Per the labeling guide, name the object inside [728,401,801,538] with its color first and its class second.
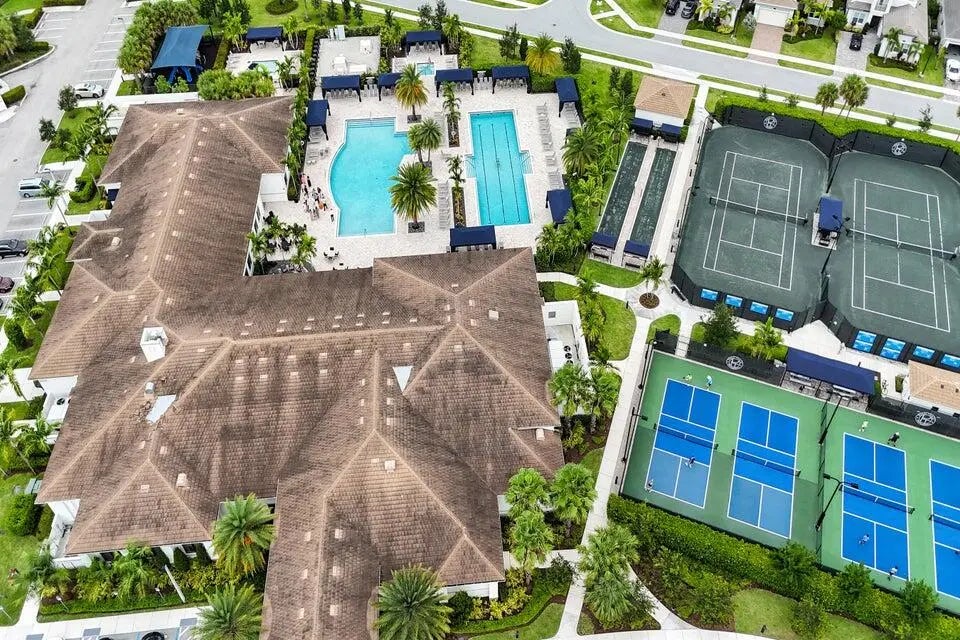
blue sports court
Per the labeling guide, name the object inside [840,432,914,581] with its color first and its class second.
blue sports court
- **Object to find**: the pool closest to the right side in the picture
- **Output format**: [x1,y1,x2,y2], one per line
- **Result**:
[463,110,534,226]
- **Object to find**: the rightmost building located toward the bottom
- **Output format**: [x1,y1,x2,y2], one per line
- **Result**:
[900,359,960,424]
